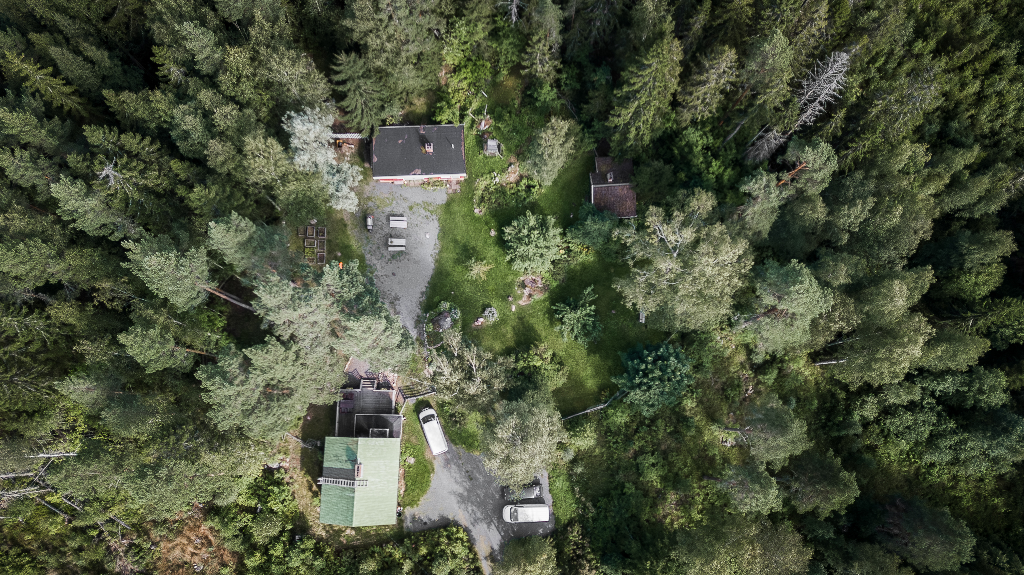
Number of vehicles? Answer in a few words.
3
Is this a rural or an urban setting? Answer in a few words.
rural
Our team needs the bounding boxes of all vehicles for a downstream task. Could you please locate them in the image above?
[501,503,550,527]
[418,407,449,458]
[504,483,545,504]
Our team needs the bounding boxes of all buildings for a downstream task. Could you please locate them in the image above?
[319,437,403,527]
[373,124,467,185]
[590,156,638,219]
[486,140,505,161]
